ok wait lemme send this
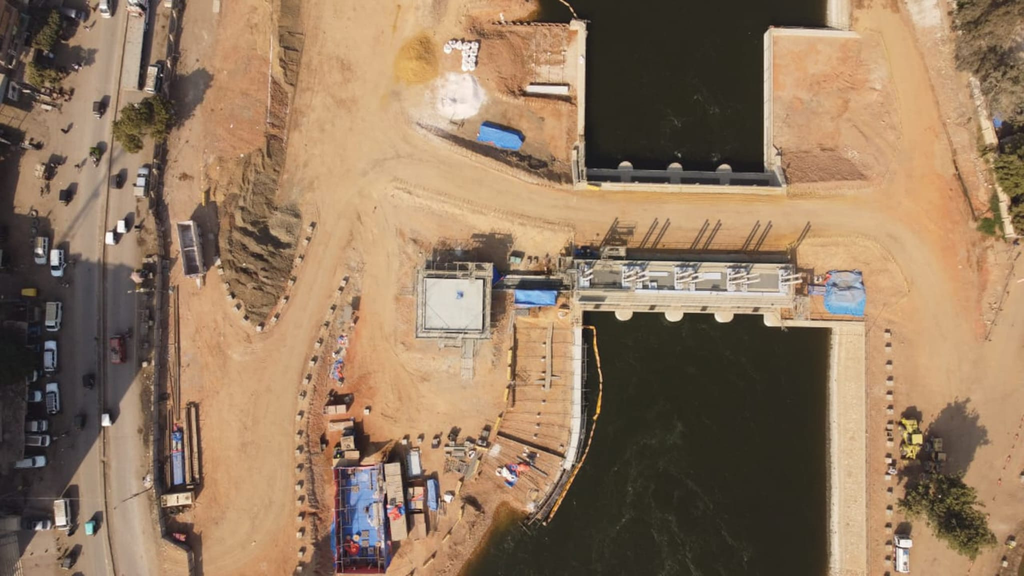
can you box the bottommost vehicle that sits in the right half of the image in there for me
[888,527,914,576]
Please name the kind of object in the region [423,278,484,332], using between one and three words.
building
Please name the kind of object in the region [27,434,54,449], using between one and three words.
vehicle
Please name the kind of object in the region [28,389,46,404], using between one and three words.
car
